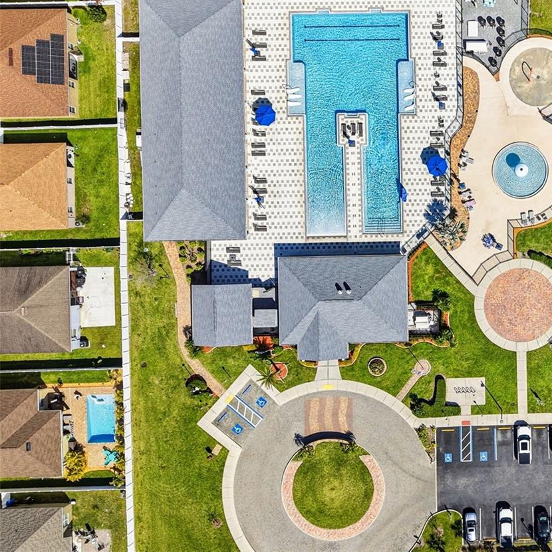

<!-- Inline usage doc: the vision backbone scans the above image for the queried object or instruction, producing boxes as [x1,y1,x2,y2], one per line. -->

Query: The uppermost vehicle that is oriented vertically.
[517,424,532,465]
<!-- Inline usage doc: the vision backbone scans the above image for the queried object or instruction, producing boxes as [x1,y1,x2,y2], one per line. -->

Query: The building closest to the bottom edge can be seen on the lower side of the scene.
[0,504,73,552]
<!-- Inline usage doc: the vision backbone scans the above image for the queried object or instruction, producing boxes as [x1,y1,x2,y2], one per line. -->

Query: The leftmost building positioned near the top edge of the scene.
[0,8,78,117]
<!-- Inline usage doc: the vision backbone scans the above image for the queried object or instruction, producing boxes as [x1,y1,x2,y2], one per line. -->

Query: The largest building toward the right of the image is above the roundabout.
[278,255,410,363]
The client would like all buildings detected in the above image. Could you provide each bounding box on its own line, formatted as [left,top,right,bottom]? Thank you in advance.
[0,389,73,478]
[0,8,78,117]
[0,142,77,231]
[278,255,410,363]
[0,266,80,353]
[0,504,73,552]
[127,0,247,241]
[191,283,258,346]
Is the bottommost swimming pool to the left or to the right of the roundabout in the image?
on its left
